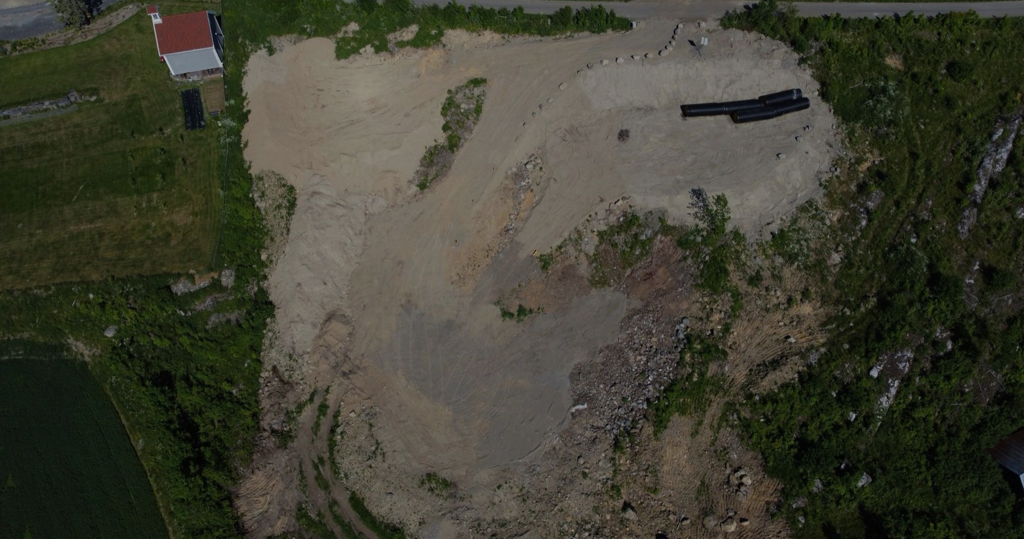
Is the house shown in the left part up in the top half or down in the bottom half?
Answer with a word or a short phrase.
top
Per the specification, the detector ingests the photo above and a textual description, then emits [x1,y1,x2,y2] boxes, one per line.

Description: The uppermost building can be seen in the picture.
[150,0,225,86]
